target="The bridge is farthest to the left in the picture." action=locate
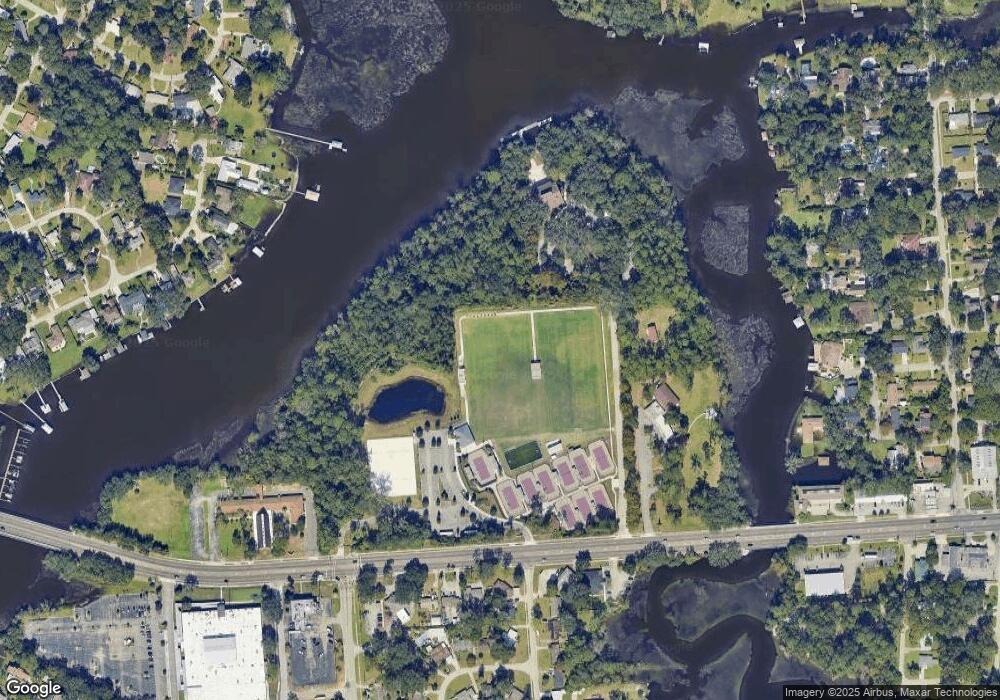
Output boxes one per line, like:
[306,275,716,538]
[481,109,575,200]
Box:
[0,512,74,552]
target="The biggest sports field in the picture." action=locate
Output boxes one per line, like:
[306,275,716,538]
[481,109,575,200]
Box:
[461,308,615,505]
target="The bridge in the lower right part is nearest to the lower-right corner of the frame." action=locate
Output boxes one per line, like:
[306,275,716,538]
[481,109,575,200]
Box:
[748,523,796,549]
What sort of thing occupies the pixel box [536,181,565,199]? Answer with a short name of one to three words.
house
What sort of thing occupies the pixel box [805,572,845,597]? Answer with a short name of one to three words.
shed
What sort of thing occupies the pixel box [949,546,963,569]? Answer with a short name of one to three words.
building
